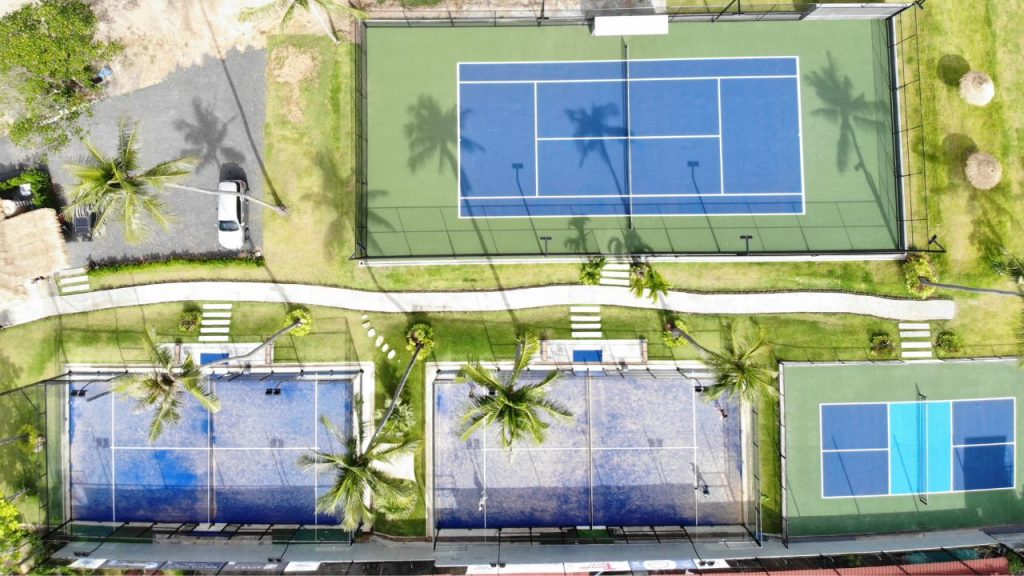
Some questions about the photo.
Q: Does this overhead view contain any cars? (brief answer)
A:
Yes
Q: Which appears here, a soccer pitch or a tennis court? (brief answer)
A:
tennis court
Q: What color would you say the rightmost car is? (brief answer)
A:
white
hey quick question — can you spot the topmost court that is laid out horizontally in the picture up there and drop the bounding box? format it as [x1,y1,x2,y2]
[365,17,899,256]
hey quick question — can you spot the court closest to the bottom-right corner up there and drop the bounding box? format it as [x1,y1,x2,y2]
[782,357,1024,538]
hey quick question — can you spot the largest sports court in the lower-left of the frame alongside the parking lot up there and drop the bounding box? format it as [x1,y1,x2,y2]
[61,362,375,531]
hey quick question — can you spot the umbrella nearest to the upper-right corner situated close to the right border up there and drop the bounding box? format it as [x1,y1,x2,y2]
[957,70,995,107]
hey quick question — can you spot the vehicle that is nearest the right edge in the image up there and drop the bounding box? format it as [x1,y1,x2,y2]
[215,181,251,250]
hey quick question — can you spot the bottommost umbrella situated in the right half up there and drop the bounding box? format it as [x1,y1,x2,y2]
[965,152,1003,190]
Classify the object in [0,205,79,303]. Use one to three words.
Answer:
shed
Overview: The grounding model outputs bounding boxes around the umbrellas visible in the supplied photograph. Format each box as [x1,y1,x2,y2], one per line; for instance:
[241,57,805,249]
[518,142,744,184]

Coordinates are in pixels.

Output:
[965,152,1003,190]
[0,197,26,217]
[957,70,995,107]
